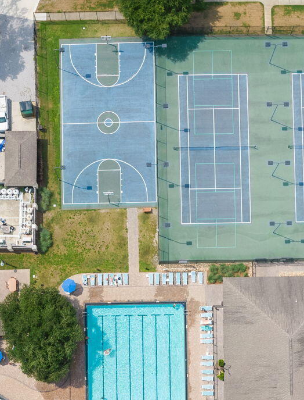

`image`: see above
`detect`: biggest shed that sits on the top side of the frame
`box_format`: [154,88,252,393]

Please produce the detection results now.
[5,130,38,190]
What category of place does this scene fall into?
sports ground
